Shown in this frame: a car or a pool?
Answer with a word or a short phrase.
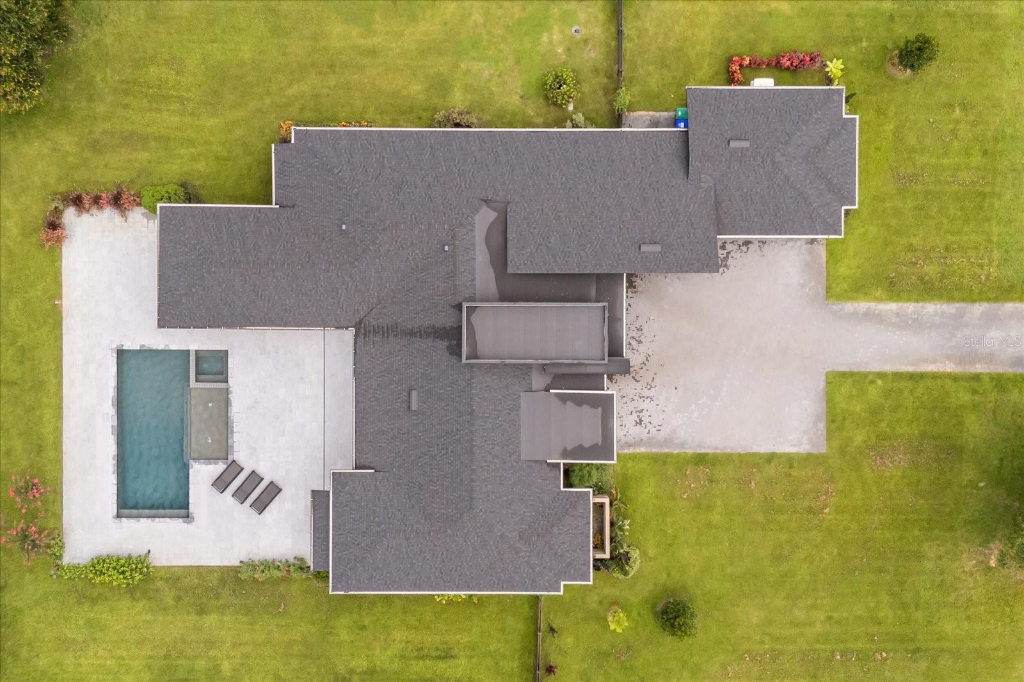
pool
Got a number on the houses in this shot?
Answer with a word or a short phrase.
one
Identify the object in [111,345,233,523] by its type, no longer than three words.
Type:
swimming pool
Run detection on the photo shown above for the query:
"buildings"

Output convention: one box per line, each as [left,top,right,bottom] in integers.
[157,86,859,594]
